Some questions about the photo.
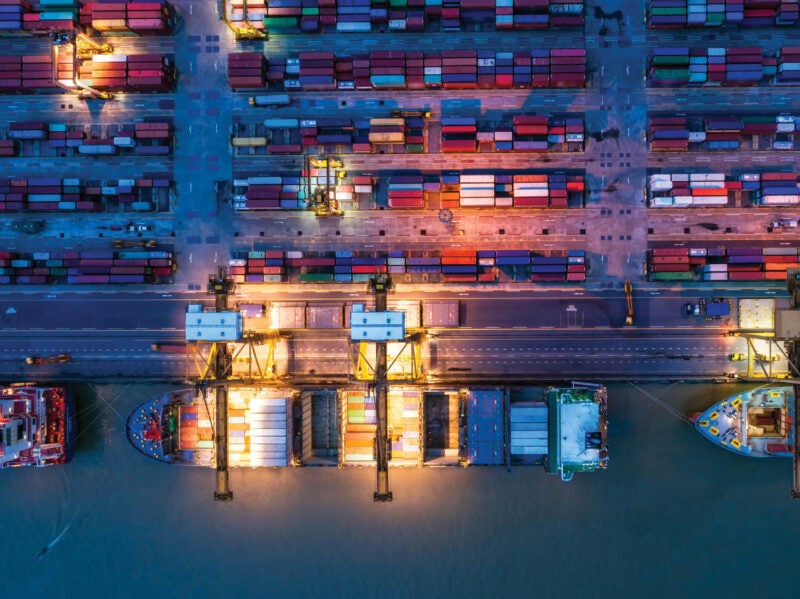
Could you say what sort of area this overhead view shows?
port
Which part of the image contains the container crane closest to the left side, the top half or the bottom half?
top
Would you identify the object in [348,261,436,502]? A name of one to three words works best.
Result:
container crane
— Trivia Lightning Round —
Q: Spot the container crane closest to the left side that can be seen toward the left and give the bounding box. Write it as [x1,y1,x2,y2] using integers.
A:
[52,28,109,99]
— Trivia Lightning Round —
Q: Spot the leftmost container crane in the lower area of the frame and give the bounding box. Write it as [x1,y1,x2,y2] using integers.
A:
[186,262,291,501]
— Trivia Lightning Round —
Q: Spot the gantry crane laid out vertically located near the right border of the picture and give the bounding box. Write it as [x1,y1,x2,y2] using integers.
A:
[730,258,800,498]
